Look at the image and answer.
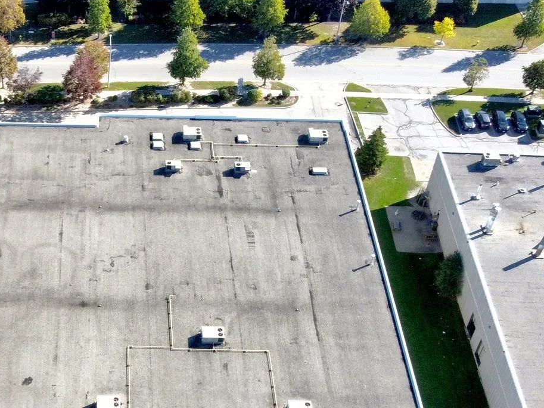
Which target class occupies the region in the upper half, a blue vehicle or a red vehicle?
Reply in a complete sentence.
What appears in the upper half is a blue vehicle.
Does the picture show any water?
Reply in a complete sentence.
No, the scene doesn't show any water.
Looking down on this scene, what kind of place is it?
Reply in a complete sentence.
It's an industrial area.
